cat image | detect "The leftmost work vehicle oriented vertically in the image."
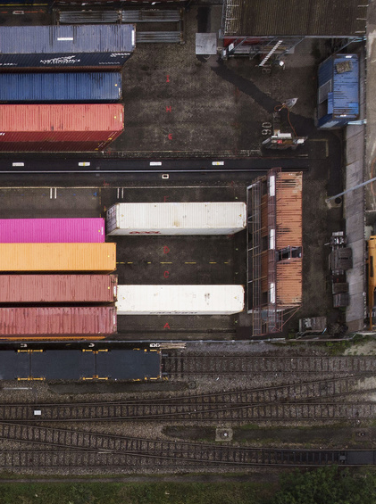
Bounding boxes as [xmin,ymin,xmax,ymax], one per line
[325,223,368,311]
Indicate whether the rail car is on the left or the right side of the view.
left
